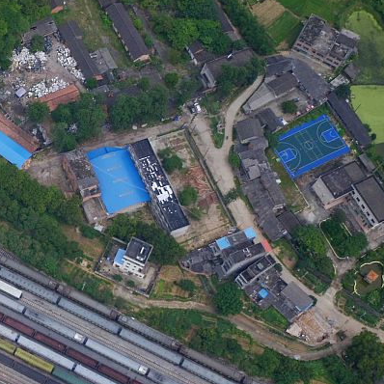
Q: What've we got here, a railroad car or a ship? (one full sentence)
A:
Of the two, only a railroad car appears.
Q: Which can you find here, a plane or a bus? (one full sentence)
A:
It is a bus that can be seen here.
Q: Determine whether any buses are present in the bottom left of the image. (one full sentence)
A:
Yes, in the bottom left of the image there is a bus.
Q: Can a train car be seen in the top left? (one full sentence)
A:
No, I see no train car in the top left.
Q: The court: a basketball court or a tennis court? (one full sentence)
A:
Looking closely, the court is a basketball court.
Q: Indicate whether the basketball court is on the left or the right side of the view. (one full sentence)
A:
You can find the basketball court on the right side of the picture.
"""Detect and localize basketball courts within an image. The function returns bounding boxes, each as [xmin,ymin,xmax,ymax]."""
[274,115,350,175]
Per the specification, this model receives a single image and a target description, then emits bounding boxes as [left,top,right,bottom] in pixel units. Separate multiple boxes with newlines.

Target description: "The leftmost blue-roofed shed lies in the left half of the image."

[0,132,32,172]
